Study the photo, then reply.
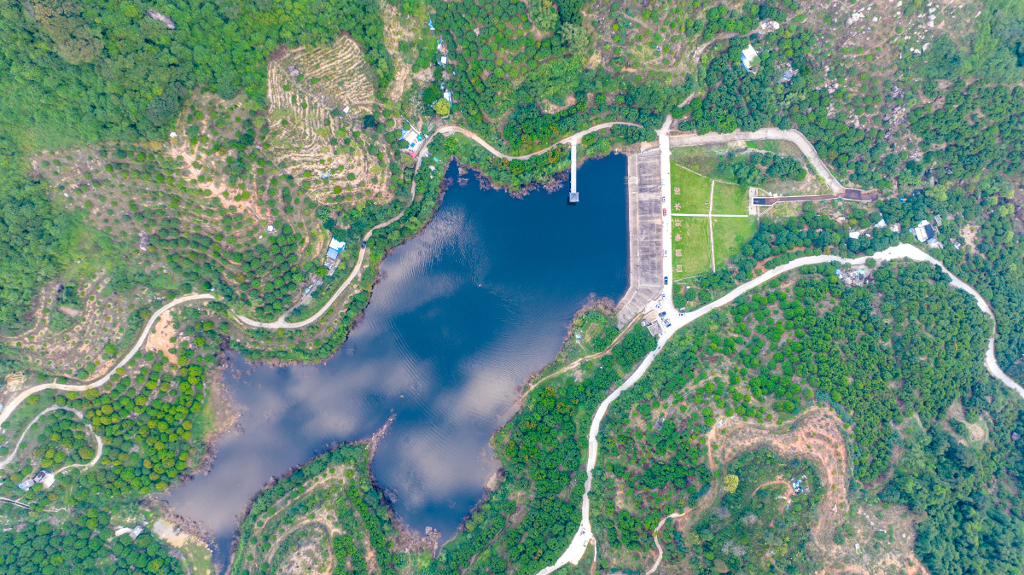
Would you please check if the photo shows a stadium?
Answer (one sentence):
No, no stadium can be seen from above.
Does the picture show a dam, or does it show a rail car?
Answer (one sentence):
I can see a dam in this picture.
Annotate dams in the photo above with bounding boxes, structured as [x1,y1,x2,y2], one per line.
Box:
[612,134,758,331]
